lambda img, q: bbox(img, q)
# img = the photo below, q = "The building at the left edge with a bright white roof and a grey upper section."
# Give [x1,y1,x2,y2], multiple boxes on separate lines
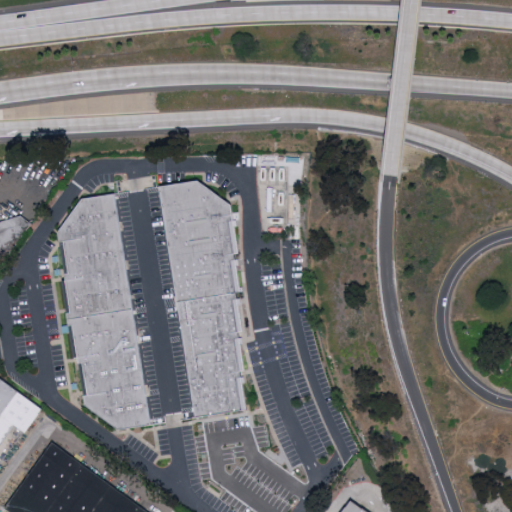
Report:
[0,378,40,443]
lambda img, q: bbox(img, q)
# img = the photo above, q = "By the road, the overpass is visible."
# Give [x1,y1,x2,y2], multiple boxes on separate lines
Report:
[384,0,420,176]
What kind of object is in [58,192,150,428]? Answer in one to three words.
building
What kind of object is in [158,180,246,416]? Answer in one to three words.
building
